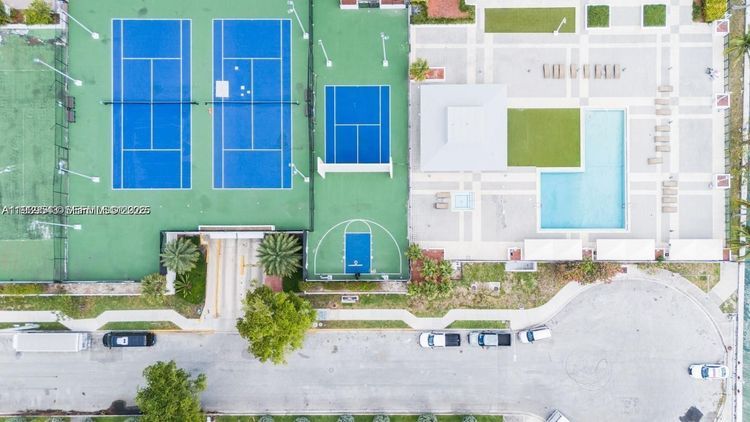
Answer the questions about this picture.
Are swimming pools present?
Yes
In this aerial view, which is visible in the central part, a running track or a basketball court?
basketball court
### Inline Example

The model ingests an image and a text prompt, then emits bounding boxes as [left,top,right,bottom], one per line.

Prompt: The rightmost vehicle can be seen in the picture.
[688,363,727,380]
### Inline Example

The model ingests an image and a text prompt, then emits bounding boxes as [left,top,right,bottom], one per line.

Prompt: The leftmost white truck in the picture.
[13,330,97,353]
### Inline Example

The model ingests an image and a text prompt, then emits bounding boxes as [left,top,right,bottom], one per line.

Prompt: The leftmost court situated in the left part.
[0,29,64,281]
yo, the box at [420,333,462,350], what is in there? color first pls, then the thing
white vehicle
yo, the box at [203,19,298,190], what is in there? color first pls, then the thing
blue tennis court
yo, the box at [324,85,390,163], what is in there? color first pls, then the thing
blue tennis court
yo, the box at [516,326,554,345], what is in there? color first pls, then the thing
white car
